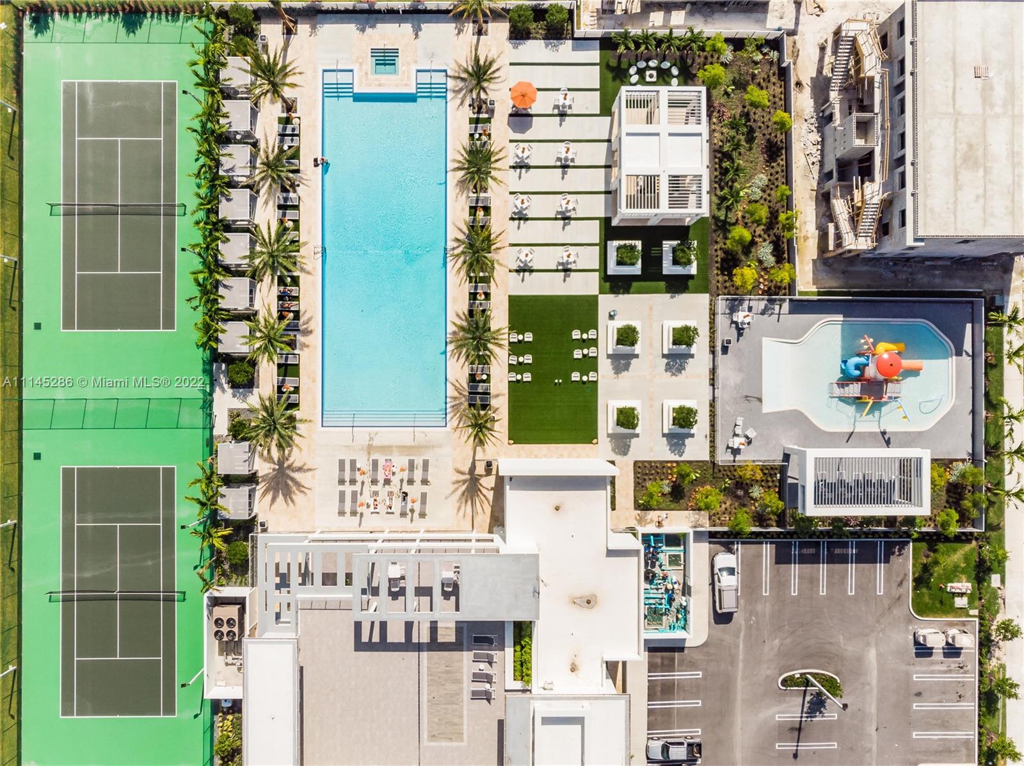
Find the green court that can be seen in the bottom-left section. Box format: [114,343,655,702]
[23,414,212,766]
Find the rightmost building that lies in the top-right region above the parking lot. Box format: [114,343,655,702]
[816,0,1024,262]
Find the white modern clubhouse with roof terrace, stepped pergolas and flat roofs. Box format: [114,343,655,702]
[243,460,643,766]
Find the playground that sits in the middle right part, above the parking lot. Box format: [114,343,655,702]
[820,335,927,421]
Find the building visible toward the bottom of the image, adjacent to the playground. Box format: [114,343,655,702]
[782,445,930,515]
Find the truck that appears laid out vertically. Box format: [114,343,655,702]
[712,553,740,615]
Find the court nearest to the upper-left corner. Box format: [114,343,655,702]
[23,11,212,414]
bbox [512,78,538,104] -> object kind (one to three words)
umbrella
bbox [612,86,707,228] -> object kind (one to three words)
building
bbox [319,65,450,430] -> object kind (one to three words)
swimming pool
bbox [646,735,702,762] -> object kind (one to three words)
truck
